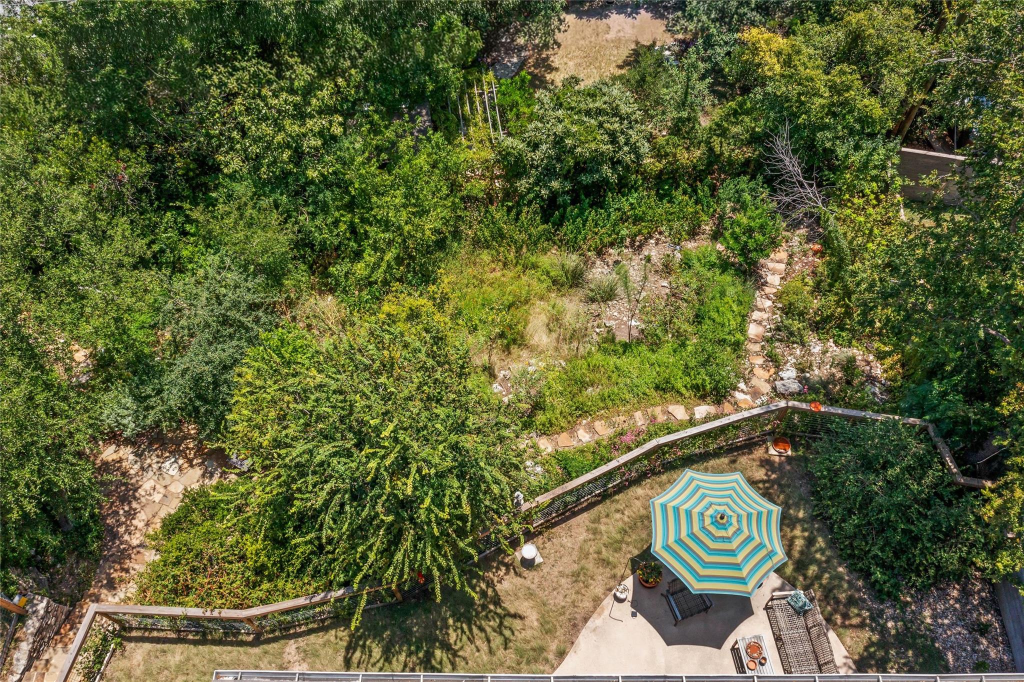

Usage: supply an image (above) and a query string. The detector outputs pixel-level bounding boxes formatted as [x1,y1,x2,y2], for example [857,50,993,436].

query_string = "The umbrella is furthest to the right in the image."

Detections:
[648,468,788,601]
